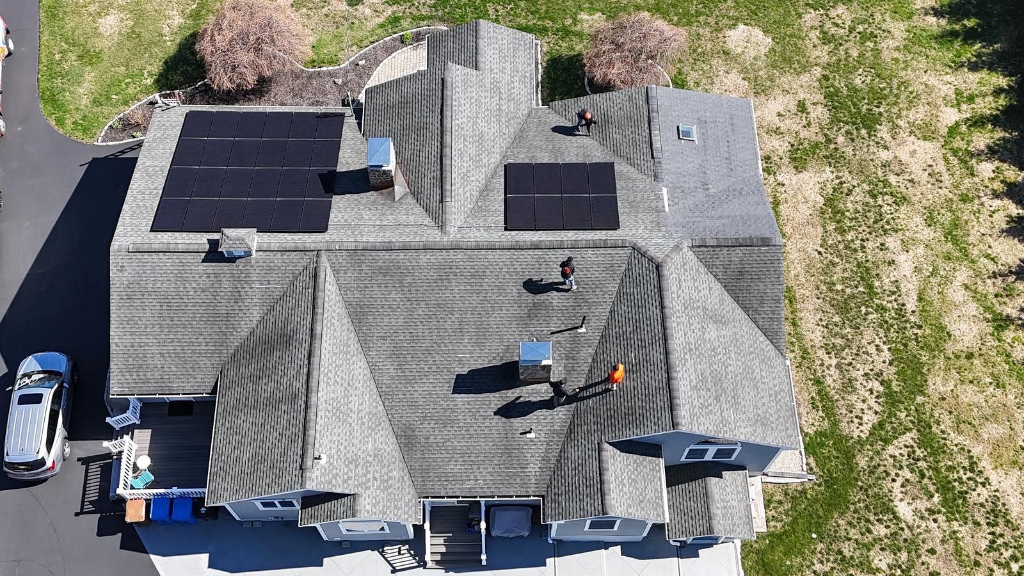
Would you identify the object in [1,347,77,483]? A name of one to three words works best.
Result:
car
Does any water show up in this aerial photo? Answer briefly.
No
